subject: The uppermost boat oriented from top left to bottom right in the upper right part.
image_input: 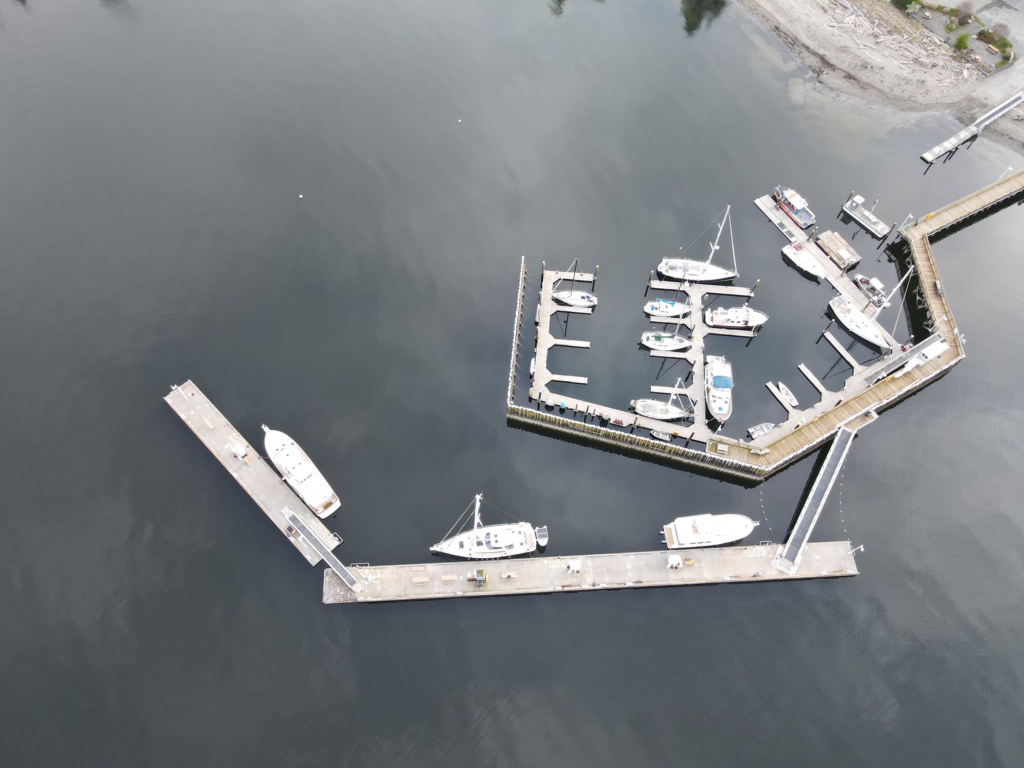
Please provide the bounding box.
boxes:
[775,183,818,230]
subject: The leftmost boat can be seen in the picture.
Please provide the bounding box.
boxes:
[259,421,344,522]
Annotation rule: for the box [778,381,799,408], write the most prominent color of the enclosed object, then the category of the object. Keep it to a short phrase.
white boat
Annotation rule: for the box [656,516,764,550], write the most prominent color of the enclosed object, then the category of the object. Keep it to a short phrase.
white boat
